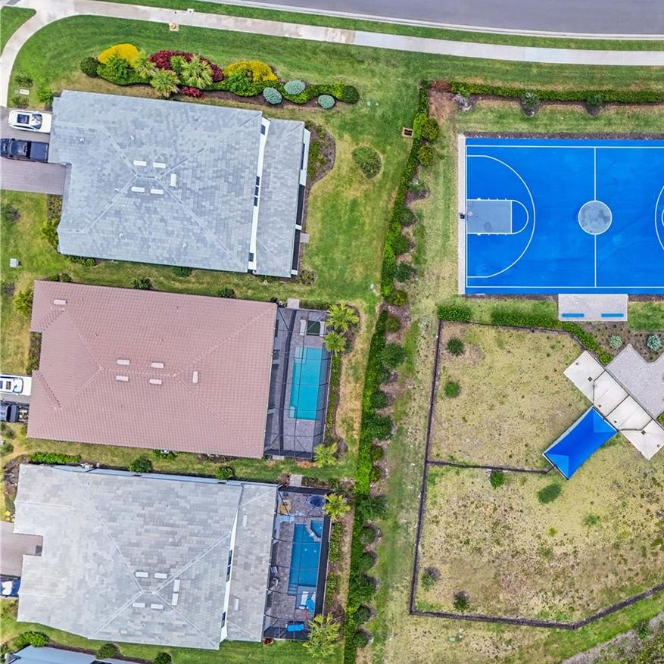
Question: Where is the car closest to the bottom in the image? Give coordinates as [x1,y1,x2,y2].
[0,575,20,598]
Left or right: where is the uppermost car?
left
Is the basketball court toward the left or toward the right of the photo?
right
